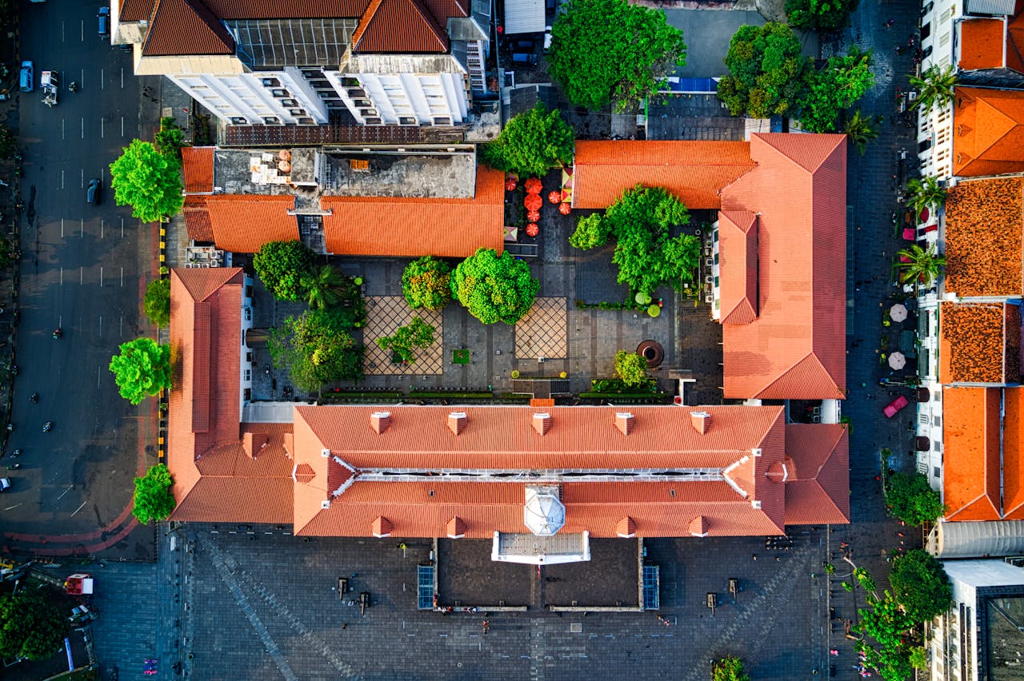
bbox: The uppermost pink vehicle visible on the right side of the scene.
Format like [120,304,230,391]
[882,393,912,420]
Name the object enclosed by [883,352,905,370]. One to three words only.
umbrella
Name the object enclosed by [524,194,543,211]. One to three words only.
umbrella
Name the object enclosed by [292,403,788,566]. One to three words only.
building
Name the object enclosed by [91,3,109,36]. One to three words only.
car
